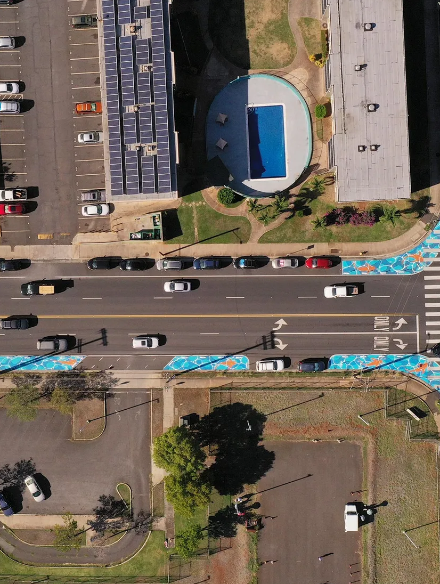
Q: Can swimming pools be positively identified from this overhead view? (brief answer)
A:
Yes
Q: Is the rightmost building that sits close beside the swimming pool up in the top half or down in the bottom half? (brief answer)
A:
top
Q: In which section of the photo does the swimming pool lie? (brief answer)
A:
top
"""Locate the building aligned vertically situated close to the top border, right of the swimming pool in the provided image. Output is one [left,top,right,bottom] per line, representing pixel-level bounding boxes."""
[321,0,411,202]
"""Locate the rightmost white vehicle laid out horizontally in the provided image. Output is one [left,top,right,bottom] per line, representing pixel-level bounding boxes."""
[324,285,357,297]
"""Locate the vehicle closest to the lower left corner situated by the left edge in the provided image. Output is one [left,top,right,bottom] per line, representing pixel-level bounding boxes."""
[0,488,16,518]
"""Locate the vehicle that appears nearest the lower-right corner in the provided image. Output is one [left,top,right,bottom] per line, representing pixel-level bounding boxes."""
[345,503,359,534]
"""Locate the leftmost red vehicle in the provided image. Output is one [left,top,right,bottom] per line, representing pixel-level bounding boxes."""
[0,202,26,216]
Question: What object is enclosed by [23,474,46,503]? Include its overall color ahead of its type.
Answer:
white car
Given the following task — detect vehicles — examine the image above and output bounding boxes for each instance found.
[78,131,103,144]
[0,101,20,114]
[0,190,28,201]
[257,359,284,373]
[23,474,46,503]
[37,337,68,350]
[305,257,332,267]
[0,0,15,5]
[75,100,102,114]
[0,317,30,328]
[156,258,183,271]
[0,202,26,216]
[131,337,159,350]
[273,257,298,269]
[119,258,146,271]
[164,280,191,292]
[345,503,359,534]
[81,204,110,216]
[297,359,325,372]
[0,488,16,518]
[72,16,99,28]
[81,192,105,202]
[0,260,22,271]
[87,258,113,270]
[324,285,357,297]
[193,257,219,270]
[233,256,259,269]
[0,38,16,49]
[0,83,20,95]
